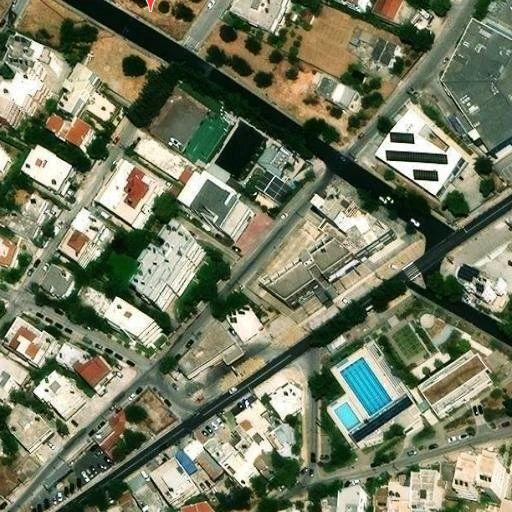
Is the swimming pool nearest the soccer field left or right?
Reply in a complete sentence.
The swimming pool nearest the soccer field sits on the right side.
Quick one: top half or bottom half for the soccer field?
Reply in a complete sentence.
Seen from above, the soccer field lies in the bottom half of the view.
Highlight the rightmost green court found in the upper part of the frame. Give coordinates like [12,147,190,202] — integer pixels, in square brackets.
[184,112,230,164]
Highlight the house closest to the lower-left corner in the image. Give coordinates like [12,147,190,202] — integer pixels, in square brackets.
[7,404,58,456]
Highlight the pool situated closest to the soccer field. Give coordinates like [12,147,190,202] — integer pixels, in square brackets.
[330,347,404,417]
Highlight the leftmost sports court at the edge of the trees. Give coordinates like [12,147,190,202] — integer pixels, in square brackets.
[152,94,204,151]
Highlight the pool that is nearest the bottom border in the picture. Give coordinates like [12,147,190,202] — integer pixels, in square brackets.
[327,394,365,440]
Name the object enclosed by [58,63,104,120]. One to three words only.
building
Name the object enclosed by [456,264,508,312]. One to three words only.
house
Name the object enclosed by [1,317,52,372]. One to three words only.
house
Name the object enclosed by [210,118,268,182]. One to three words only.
sports court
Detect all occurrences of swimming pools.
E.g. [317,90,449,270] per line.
[327,394,365,440]
[330,347,404,417]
